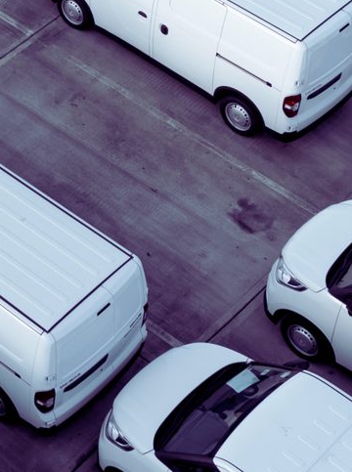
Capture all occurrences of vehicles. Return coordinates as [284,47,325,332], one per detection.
[96,344,352,472]
[265,202,352,380]
[0,165,144,438]
[52,0,352,144]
